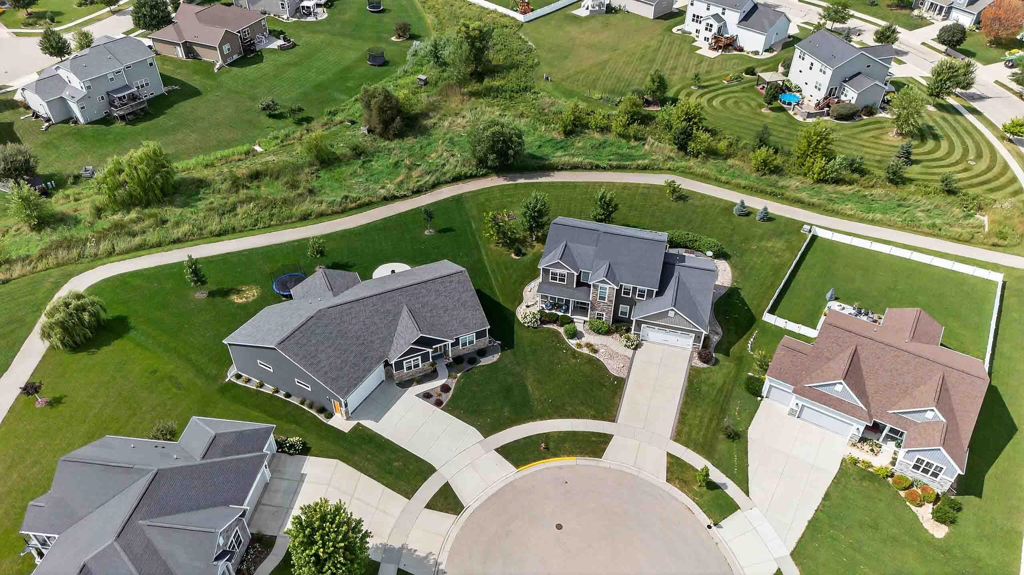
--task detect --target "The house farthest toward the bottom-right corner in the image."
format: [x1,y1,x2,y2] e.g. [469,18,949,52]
[764,302,993,501]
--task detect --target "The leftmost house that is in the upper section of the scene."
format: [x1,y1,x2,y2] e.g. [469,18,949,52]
[19,34,173,122]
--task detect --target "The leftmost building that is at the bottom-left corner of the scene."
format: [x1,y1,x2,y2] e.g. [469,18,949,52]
[14,416,277,575]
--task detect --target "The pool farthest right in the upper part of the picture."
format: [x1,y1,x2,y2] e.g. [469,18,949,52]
[778,90,805,106]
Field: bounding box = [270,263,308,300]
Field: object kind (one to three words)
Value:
trampoline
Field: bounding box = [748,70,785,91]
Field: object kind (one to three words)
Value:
gazebo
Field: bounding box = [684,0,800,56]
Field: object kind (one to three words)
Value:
house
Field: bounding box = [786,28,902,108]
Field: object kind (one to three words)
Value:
house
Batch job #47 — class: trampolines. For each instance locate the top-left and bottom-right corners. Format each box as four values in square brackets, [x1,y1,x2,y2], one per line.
[270,263,308,300]
[365,48,387,68]
[366,0,383,12]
